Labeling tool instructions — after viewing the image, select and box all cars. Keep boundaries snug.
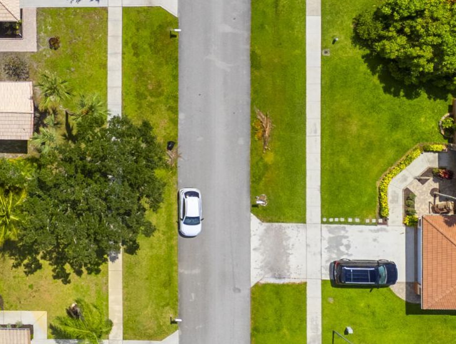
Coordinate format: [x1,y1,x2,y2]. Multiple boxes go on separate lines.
[329,261,397,290]
[178,188,205,238]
